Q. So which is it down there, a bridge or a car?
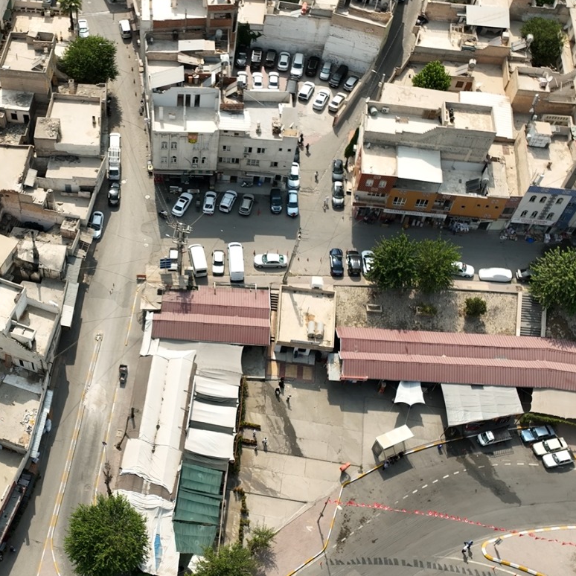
car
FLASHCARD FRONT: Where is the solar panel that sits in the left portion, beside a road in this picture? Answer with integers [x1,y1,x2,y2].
[157,256,173,272]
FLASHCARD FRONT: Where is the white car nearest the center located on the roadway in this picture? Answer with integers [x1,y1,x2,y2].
[254,253,287,269]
